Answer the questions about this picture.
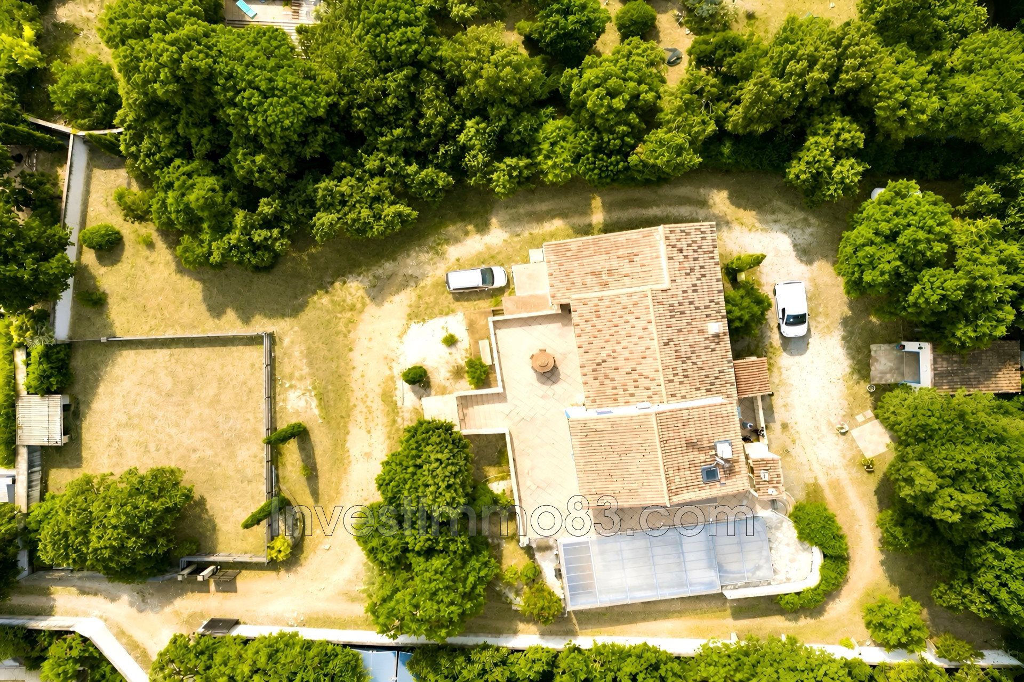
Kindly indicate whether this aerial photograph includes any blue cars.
No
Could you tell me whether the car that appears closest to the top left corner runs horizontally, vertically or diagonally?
horizontally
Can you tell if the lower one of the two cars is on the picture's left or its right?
right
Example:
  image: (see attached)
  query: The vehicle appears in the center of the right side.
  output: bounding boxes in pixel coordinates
[779,281,813,338]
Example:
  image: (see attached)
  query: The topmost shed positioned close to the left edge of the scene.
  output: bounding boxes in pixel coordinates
[15,394,83,446]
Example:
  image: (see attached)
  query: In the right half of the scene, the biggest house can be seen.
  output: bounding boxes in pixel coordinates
[542,222,751,509]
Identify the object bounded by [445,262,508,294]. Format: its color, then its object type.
white car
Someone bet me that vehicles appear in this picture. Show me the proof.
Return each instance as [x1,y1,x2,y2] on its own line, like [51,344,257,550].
[445,262,508,294]
[779,281,813,338]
